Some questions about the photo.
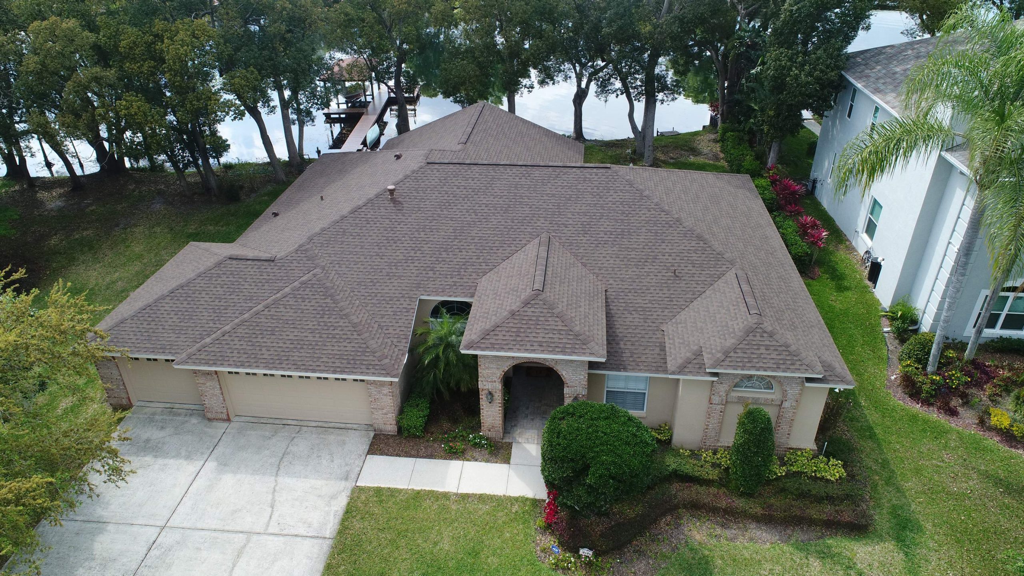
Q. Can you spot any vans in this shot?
No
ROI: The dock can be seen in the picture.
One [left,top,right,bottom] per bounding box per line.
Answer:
[323,77,421,151]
